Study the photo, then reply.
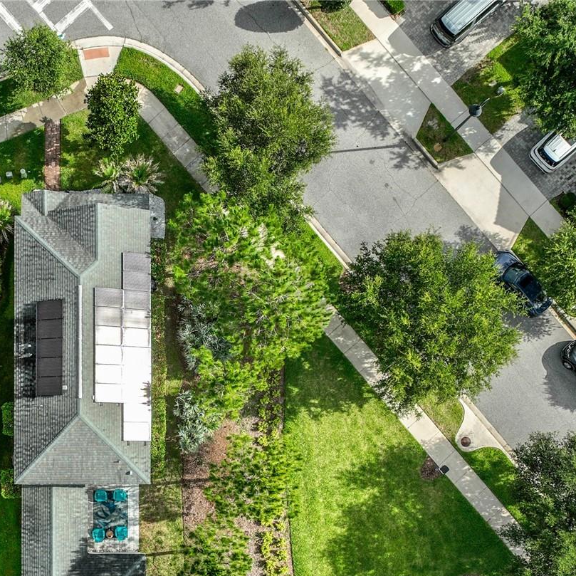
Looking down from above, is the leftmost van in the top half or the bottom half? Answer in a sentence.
The leftmost van is in the top half of the image.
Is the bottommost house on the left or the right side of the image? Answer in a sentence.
The bottommost house is on the left side of the image.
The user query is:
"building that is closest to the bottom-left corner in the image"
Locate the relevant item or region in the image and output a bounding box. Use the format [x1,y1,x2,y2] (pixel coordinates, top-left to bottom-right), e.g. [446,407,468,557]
[13,185,151,576]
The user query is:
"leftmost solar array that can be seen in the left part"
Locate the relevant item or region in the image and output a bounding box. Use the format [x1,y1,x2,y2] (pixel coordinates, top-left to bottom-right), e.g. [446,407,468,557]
[36,296,63,398]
